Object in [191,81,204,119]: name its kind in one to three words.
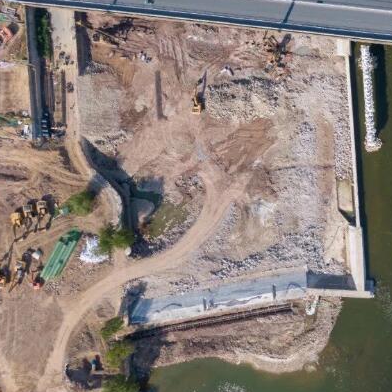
vehicle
